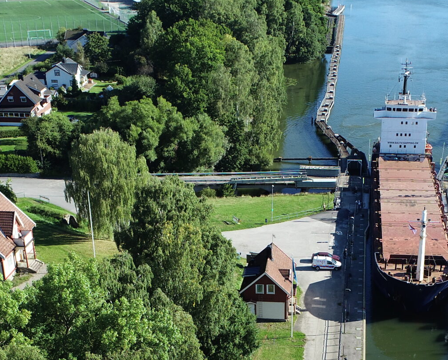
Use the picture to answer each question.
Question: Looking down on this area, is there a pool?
No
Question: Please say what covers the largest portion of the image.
trees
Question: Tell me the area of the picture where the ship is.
right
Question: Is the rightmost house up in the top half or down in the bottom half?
bottom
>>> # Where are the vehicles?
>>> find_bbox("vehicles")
[312,253,343,269]
[311,250,341,260]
